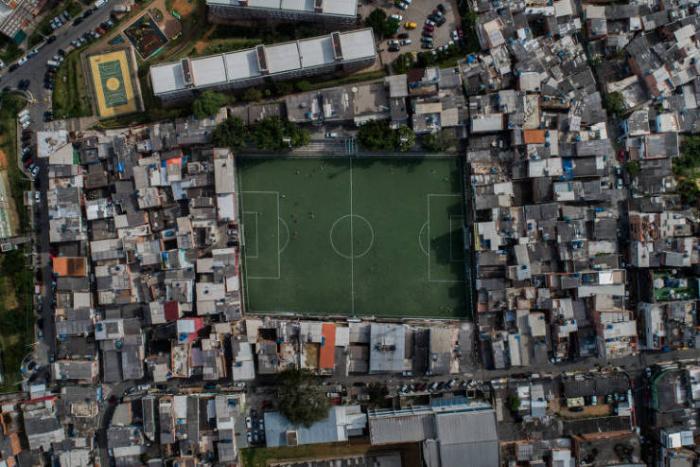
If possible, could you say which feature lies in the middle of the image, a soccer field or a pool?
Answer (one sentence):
The one visible in the middle of the image is a soccer field.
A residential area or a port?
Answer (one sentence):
This looks like a residential area.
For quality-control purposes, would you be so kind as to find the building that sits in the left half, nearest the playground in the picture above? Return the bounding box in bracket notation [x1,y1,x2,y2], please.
[148,27,377,101]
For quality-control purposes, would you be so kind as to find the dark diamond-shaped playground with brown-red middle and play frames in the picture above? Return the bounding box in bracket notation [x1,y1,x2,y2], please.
[121,10,168,60]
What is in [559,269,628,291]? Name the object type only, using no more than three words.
house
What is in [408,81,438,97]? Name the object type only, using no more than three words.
house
